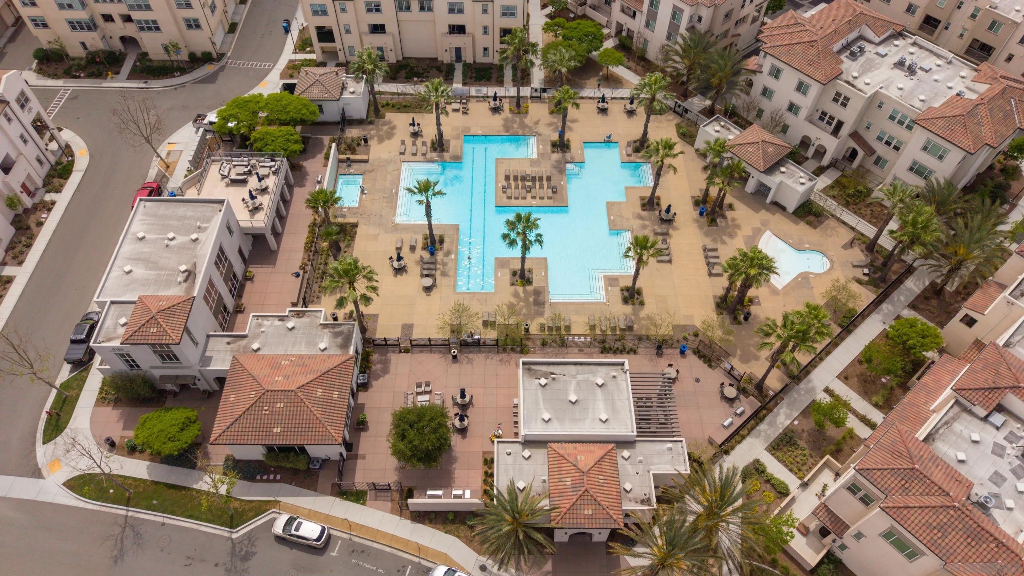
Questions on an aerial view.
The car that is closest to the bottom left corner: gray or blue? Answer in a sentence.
The color of the car that is closest to the bottom left corner is gray.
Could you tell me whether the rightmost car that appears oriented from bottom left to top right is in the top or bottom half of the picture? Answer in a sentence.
The rightmost car that appears oriented from bottom left to top right sits in the top half of the picture.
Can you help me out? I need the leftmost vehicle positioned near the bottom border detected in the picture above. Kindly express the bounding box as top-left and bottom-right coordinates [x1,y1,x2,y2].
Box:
[269,516,329,552]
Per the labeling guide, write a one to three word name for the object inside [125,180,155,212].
car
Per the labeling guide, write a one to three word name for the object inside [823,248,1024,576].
building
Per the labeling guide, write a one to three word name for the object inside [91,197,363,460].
building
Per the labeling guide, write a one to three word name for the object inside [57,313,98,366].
car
